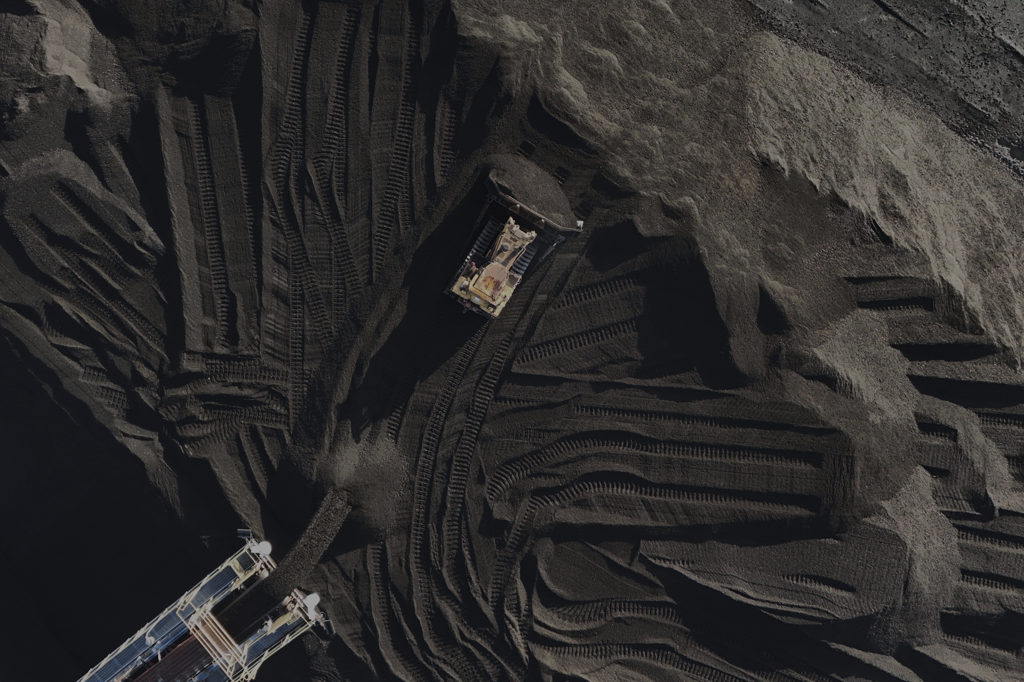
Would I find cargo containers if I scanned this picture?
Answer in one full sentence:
No, this view has no cargo container in it.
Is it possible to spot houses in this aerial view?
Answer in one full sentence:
No, no house can be seen from above.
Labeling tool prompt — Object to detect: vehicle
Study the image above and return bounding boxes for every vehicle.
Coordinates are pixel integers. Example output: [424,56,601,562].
[446,169,589,323]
